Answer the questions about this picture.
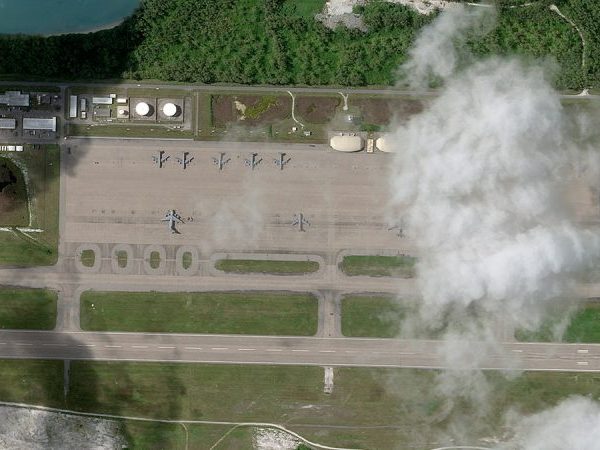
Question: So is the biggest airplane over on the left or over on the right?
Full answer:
The biggest airplane is on the left side of the image.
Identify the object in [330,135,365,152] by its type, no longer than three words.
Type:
hangar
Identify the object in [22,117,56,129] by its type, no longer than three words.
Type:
shed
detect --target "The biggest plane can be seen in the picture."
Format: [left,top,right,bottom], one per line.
[160,210,182,233]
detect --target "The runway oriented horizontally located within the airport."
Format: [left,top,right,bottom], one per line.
[0,330,600,370]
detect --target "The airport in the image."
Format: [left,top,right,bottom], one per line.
[0,131,600,397]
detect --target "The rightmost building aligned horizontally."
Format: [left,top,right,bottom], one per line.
[376,136,410,152]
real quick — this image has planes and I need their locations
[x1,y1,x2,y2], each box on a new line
[175,151,193,169]
[160,210,182,233]
[272,152,290,171]
[151,150,168,168]
[212,153,229,171]
[244,153,261,171]
[292,213,309,231]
